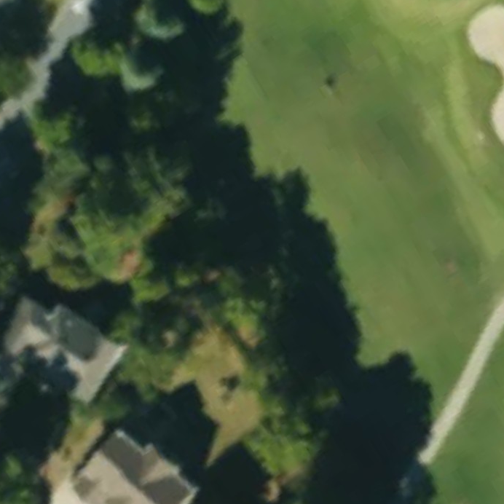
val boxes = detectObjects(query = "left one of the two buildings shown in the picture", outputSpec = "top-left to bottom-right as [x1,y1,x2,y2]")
[1,297,125,403]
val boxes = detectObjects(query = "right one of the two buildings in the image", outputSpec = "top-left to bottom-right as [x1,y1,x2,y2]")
[73,427,193,504]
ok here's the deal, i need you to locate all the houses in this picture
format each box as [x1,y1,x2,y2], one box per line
[1,297,125,403]
[73,427,193,504]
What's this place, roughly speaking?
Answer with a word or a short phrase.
golf course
